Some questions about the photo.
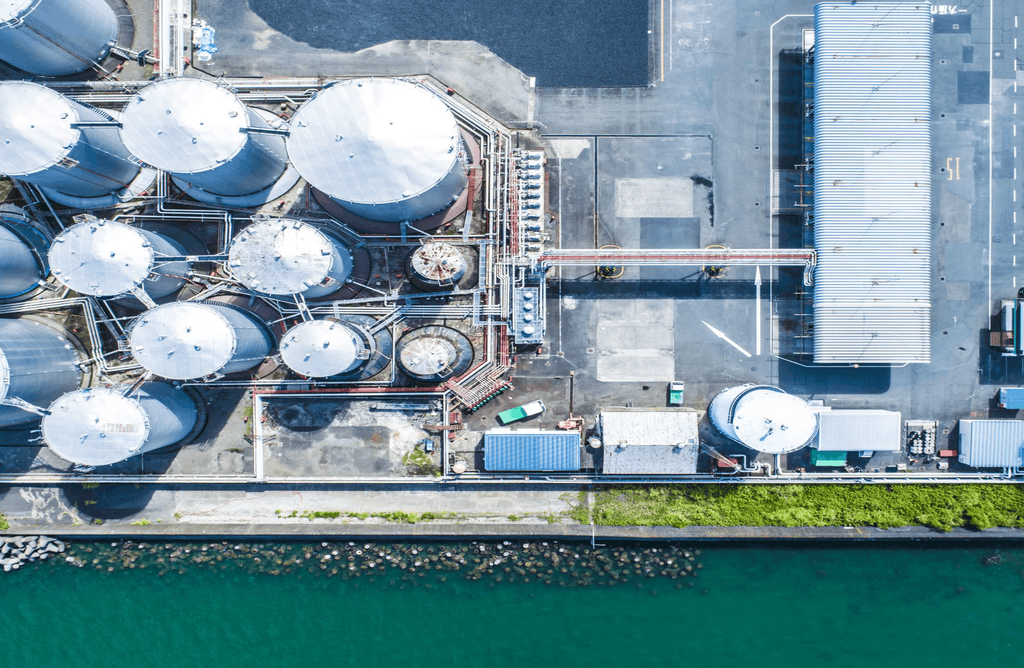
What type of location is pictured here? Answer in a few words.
industrial area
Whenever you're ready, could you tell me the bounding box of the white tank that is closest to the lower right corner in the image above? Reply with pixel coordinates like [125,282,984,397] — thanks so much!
[707,379,824,455]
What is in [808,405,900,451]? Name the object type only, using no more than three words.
building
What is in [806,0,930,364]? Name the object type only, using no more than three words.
building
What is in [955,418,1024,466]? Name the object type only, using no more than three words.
shed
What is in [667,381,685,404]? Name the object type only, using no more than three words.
vehicle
